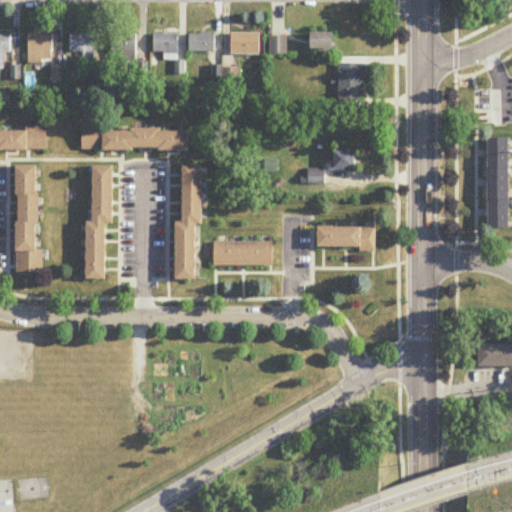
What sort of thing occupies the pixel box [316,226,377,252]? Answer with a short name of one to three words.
building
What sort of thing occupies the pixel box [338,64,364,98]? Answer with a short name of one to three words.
house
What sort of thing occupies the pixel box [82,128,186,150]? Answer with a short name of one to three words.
building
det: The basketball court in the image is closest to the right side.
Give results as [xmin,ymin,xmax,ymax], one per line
[19,478,49,500]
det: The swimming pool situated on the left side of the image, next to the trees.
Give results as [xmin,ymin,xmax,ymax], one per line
[24,71,37,92]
